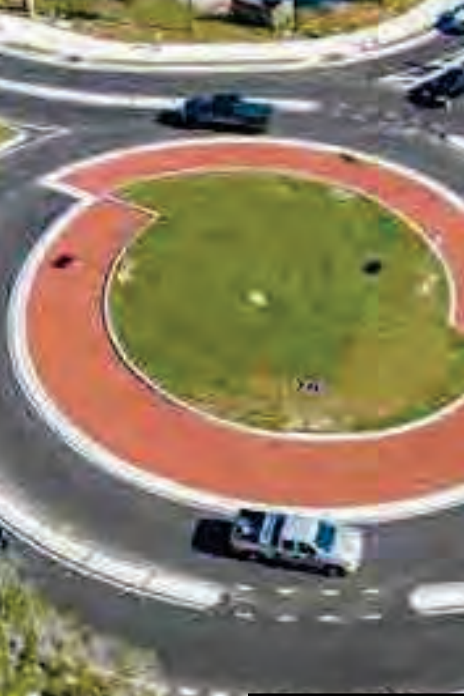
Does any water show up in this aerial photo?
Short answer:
No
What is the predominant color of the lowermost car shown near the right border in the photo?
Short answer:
black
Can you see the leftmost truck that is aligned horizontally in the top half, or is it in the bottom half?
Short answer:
top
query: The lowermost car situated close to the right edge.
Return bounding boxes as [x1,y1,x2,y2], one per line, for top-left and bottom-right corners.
[409,62,464,104]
